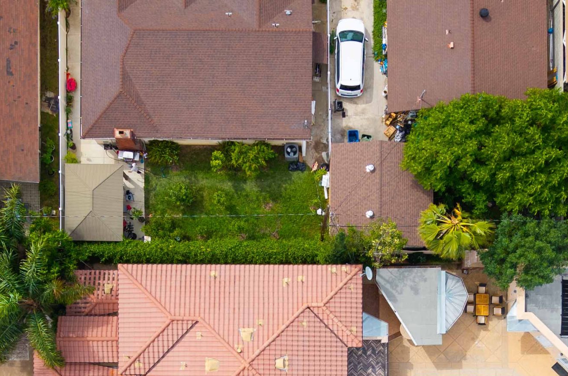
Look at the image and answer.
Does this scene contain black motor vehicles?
No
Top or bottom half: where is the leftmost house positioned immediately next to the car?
top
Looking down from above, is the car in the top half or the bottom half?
top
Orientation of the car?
vertically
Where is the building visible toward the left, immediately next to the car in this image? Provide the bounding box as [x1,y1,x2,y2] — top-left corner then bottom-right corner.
[78,0,327,163]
